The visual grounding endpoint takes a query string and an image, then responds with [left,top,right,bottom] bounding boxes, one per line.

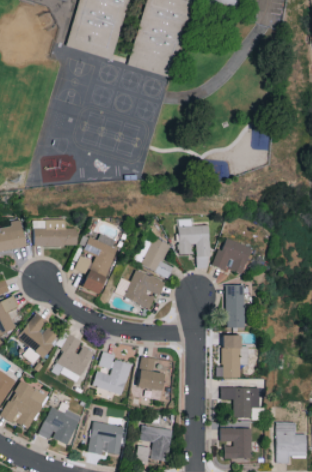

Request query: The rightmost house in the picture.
[274,422,307,460]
